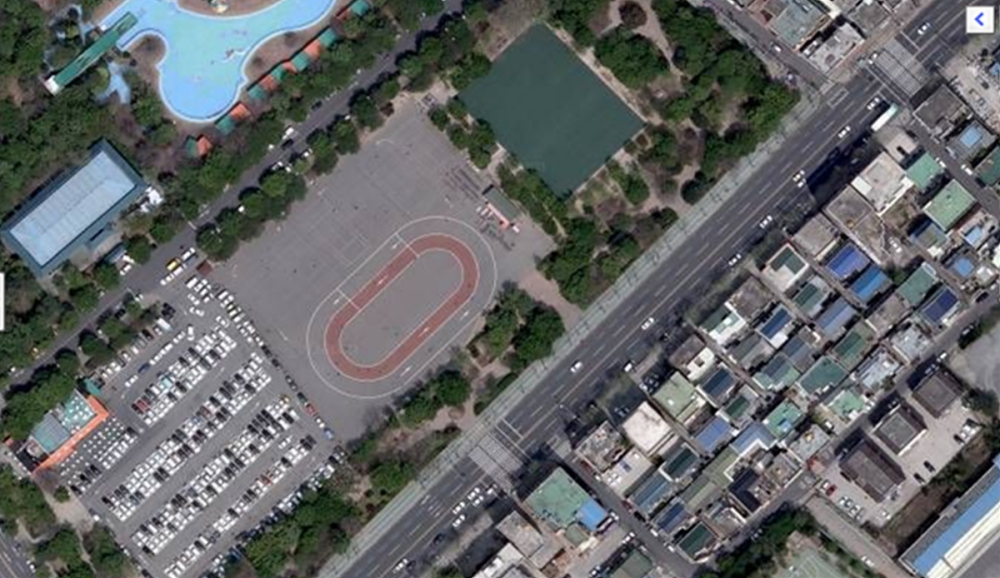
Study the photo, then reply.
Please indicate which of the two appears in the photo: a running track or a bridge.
running track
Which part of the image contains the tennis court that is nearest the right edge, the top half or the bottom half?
bottom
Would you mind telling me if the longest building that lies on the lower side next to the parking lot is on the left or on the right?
left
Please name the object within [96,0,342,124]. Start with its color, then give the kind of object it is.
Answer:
blue swimming pool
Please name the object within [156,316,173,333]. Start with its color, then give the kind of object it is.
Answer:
white vehicle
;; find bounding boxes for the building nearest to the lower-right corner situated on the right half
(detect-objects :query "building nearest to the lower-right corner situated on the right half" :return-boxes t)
[897,462,1000,578]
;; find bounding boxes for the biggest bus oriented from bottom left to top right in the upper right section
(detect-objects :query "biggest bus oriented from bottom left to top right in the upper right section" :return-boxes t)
[870,104,897,131]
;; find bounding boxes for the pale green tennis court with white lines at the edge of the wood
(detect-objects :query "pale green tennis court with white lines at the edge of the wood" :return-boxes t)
[780,547,841,578]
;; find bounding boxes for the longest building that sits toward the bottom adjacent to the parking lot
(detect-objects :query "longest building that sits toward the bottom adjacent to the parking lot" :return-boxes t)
[18,379,108,473]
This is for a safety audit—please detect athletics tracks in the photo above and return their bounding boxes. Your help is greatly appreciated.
[307,216,497,399]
